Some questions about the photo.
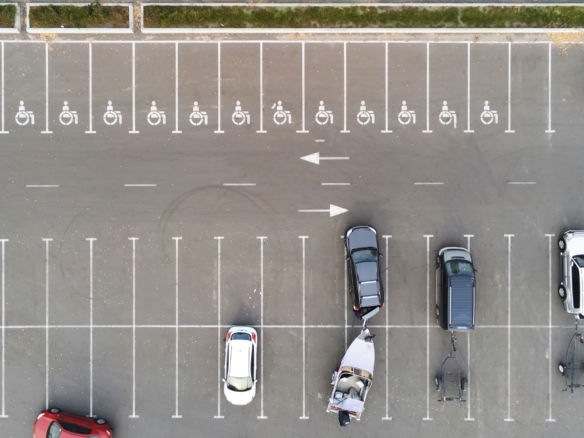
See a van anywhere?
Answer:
Yes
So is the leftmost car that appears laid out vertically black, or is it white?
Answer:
white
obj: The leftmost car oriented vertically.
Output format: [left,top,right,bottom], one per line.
[220,324,259,405]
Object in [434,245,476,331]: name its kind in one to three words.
van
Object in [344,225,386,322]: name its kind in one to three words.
car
